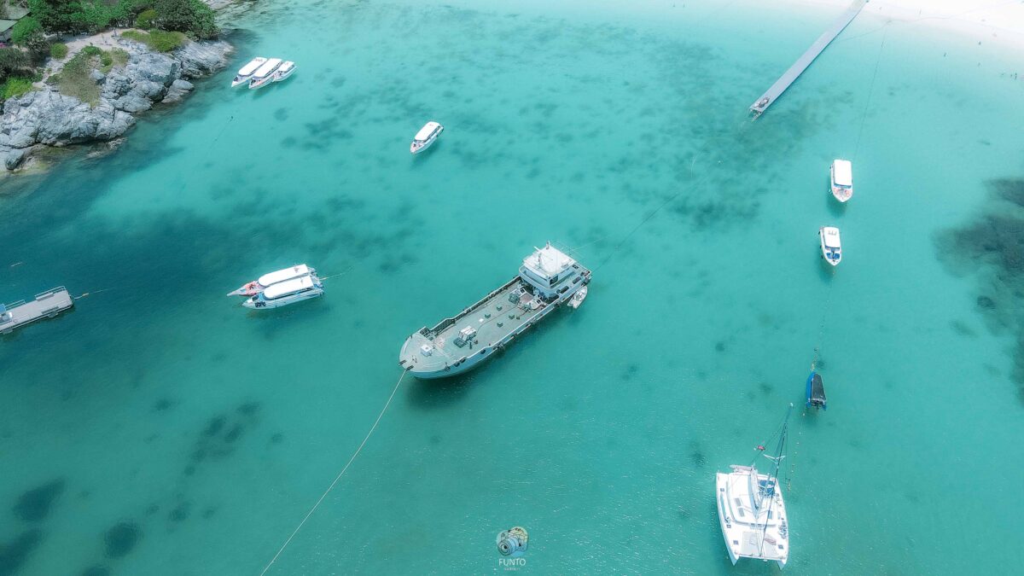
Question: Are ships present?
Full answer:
Yes, I can see a ship in this picture.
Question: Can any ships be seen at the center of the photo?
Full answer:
Yes, a ship is visible at the center of the photo.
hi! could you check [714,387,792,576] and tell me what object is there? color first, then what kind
white boat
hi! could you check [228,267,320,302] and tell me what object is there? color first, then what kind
white boat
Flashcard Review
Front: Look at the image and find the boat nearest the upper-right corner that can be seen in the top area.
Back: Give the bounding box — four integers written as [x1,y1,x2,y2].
[830,161,855,204]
